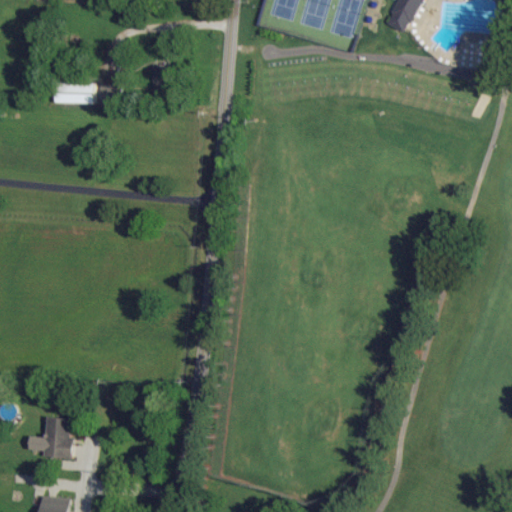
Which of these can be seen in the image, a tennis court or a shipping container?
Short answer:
tennis court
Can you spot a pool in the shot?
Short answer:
Yes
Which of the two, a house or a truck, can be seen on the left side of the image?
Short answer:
house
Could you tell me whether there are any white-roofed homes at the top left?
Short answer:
Yes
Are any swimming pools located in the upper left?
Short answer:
No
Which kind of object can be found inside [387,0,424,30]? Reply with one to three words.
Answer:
building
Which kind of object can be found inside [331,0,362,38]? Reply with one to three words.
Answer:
tennis court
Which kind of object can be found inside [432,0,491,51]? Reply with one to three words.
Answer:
swimming pool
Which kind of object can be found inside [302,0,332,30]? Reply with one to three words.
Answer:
tennis court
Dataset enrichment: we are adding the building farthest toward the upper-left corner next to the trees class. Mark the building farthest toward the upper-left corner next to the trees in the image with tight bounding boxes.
[54,82,98,104]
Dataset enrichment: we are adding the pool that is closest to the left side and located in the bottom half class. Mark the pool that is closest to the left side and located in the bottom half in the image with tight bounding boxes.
[0,404,19,420]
